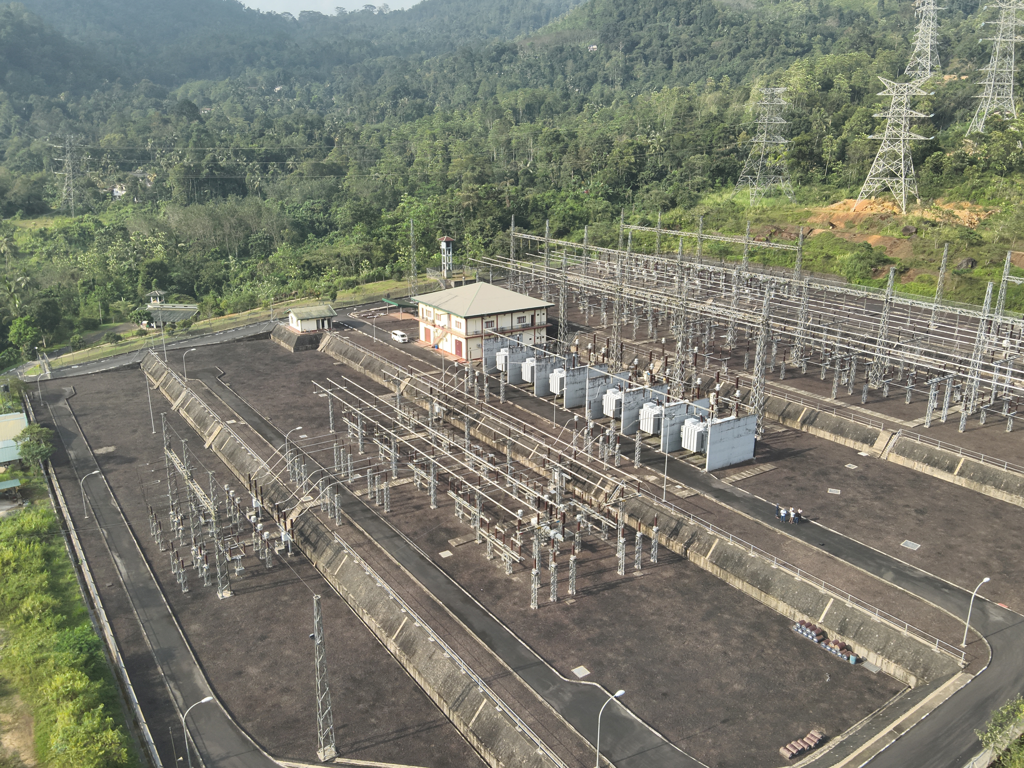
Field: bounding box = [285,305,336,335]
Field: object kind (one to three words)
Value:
building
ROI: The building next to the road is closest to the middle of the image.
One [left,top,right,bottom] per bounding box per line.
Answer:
[411,282,561,363]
